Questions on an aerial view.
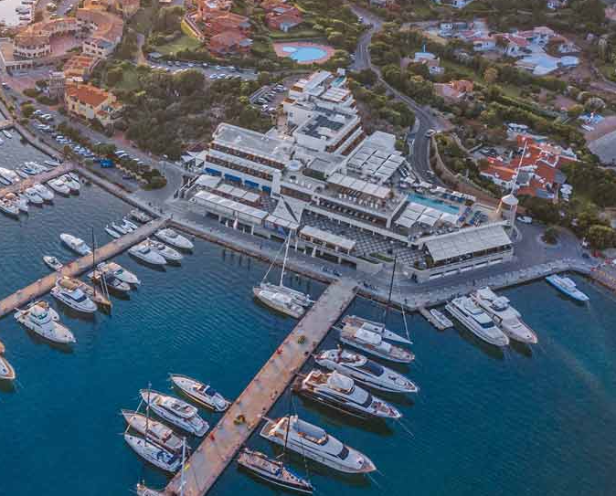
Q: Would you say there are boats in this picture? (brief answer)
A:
Yes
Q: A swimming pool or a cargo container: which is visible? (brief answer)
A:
swimming pool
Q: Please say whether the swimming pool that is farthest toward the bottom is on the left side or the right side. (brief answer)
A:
right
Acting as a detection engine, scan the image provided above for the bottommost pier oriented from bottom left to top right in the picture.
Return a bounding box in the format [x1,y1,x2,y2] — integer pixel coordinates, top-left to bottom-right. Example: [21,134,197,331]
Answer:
[165,280,361,496]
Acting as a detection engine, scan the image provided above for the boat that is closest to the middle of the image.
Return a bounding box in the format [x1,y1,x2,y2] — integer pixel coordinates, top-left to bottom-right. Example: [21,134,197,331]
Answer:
[254,240,312,320]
